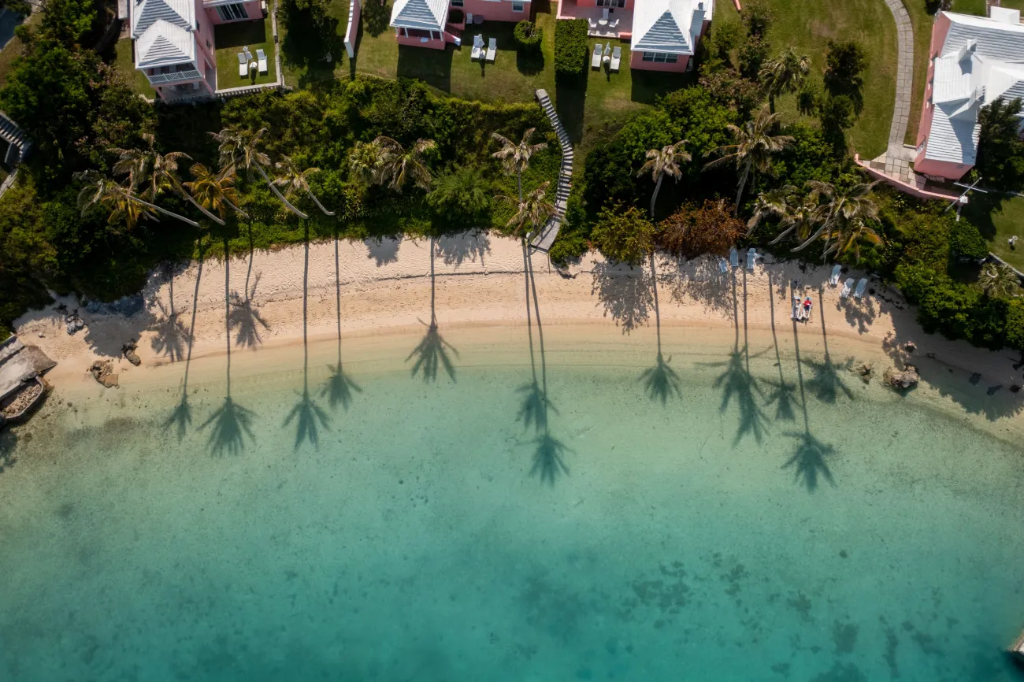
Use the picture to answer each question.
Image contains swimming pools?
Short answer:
No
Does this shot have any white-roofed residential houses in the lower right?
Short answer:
No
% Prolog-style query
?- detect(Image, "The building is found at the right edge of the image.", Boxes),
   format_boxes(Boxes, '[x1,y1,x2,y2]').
[914,2,1024,183]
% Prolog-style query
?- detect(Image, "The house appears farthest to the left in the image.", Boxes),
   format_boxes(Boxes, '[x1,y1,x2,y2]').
[130,0,266,100]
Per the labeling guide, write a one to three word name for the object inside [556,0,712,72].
house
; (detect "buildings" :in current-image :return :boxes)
[556,0,712,72]
[130,0,266,100]
[389,0,532,49]
[914,2,1024,183]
